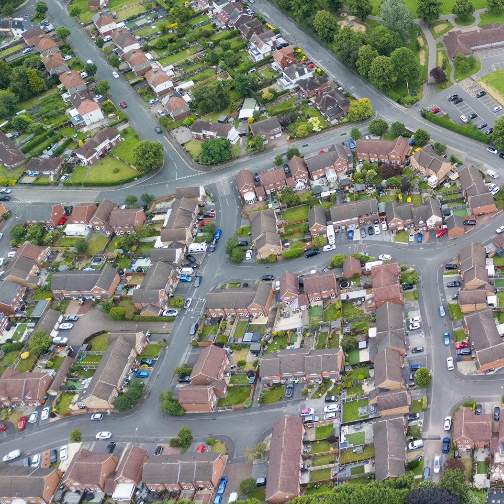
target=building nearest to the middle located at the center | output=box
[247,211,286,260]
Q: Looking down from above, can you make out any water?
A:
No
